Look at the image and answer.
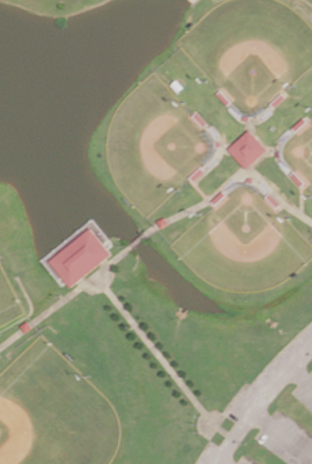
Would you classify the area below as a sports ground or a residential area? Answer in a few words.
sports ground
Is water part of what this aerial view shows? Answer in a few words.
Yes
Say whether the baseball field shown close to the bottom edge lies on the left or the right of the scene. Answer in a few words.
left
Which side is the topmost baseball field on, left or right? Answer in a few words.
right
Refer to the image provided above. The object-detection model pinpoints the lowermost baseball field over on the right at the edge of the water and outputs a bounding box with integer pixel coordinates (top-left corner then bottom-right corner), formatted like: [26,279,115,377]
[173,188,312,292]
